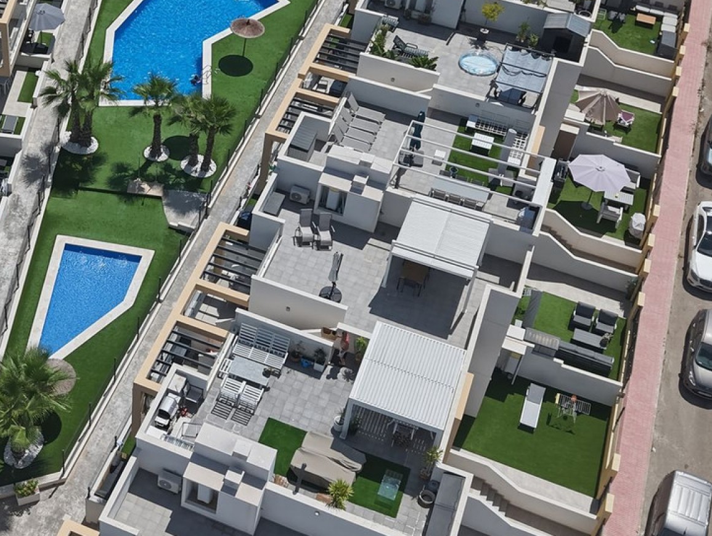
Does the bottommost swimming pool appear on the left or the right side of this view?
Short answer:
left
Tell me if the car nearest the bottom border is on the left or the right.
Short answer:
right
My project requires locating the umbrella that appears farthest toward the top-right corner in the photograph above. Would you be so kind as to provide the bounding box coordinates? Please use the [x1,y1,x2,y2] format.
[588,94,643,137]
